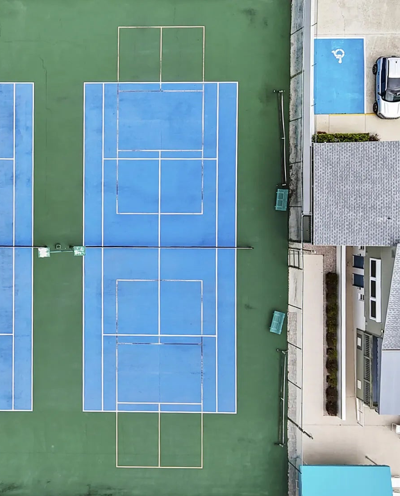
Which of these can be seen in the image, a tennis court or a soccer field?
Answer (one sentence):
This aerial view contains a tennis court.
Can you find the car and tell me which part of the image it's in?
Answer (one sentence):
The car is in the top right part of the image.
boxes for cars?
[372,55,400,120]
